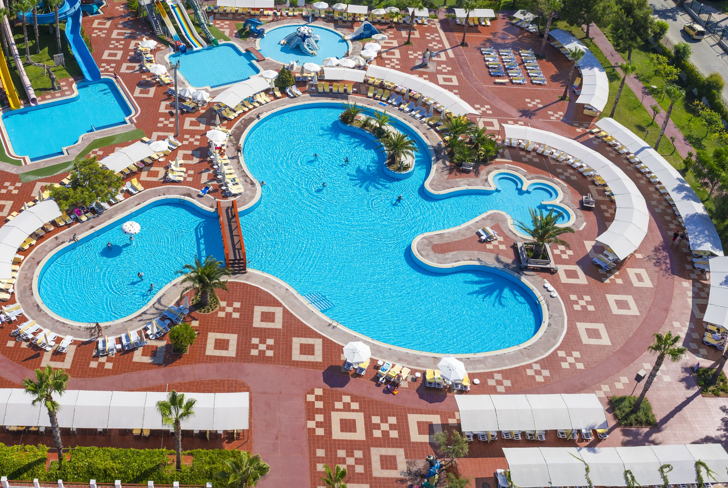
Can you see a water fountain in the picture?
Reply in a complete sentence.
Yes, the picture does show a water fountain.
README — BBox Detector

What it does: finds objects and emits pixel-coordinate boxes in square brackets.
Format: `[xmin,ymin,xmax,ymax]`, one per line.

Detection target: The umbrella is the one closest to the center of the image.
[342,343,372,372]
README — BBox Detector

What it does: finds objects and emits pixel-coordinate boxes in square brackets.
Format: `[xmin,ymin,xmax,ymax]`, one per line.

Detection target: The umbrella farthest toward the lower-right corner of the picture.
[436,358,467,390]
